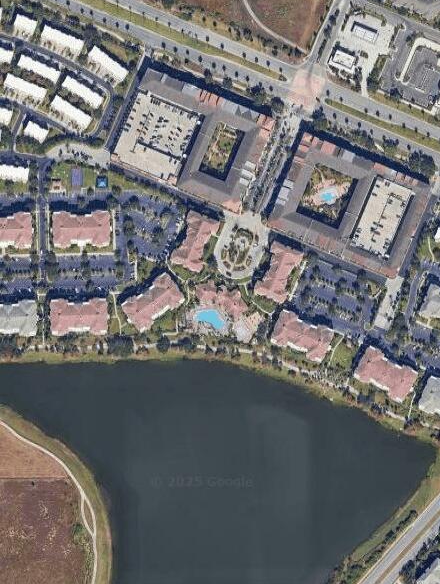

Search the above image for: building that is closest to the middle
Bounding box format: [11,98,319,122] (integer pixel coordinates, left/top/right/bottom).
[193,280,250,318]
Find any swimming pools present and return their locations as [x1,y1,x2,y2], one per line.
[311,187,340,208]
[185,304,240,343]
